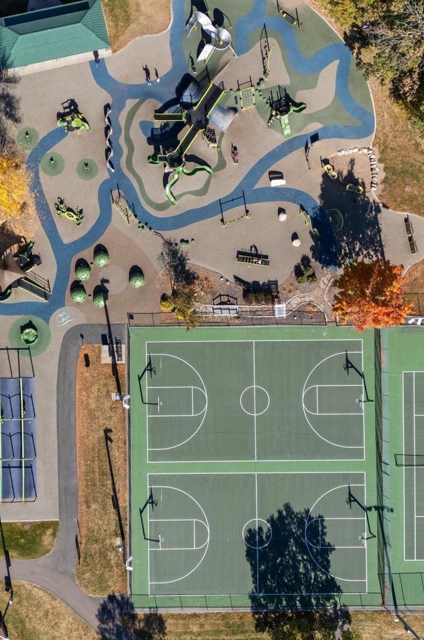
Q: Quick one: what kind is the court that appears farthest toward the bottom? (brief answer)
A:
basketball court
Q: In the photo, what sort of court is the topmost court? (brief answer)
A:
basketball court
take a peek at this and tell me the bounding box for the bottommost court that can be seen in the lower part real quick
[148,472,368,595]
